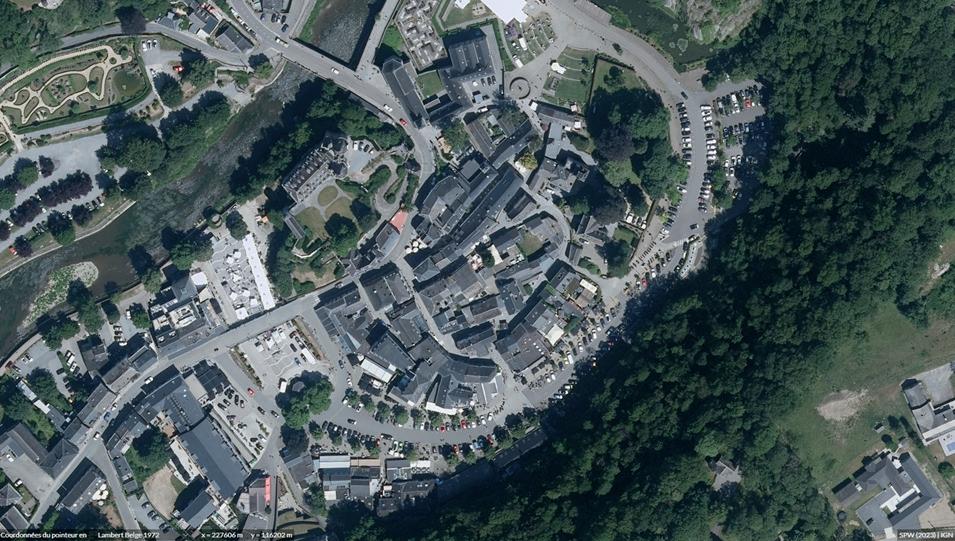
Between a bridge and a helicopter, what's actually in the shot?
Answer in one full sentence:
I can see a bridge in this picture.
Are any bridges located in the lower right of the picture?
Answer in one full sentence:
No, there is no bridge in the lower right of the picture.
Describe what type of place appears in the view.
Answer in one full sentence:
The picture captures a residential area.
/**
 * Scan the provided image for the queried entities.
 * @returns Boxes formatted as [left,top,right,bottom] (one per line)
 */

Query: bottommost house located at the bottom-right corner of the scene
[888,495,943,531]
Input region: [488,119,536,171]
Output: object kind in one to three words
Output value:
house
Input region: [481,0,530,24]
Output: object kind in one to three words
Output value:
tent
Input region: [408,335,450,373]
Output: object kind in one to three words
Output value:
building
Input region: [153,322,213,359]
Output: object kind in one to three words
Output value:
building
